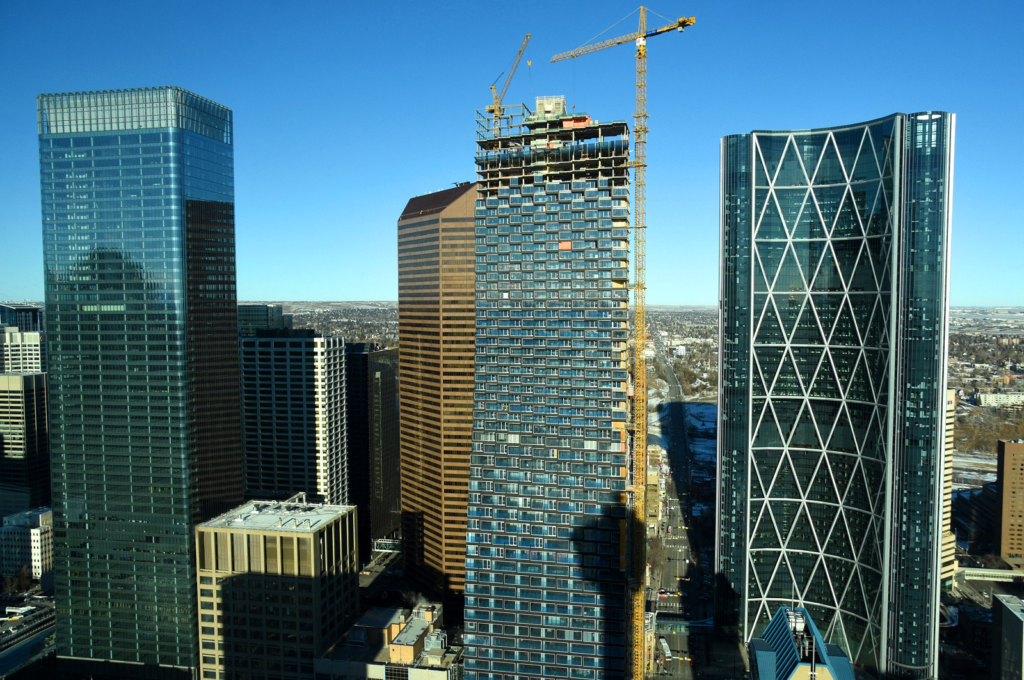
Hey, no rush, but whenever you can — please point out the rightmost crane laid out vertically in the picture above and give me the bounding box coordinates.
[553,4,698,680]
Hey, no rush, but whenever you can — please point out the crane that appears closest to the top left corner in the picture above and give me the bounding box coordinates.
[486,28,533,151]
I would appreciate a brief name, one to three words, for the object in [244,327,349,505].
building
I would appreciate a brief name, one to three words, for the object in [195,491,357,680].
building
